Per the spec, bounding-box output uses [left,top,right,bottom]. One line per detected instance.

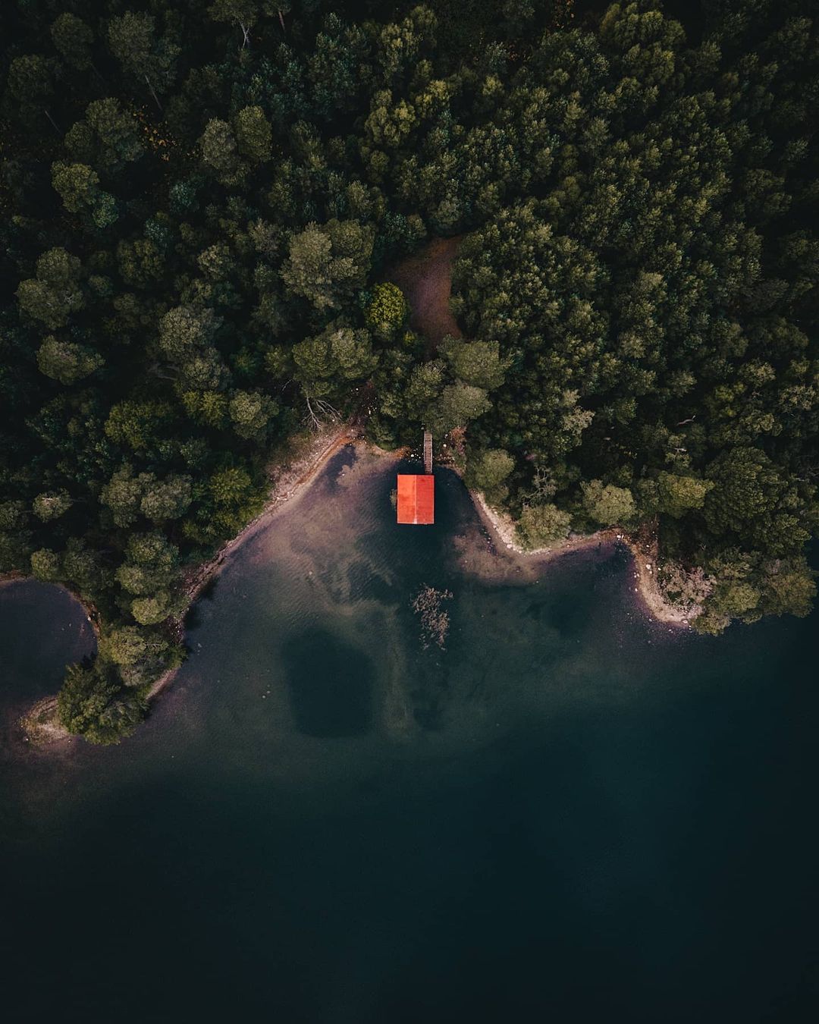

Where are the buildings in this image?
[397,474,434,524]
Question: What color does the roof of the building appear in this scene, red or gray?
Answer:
red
